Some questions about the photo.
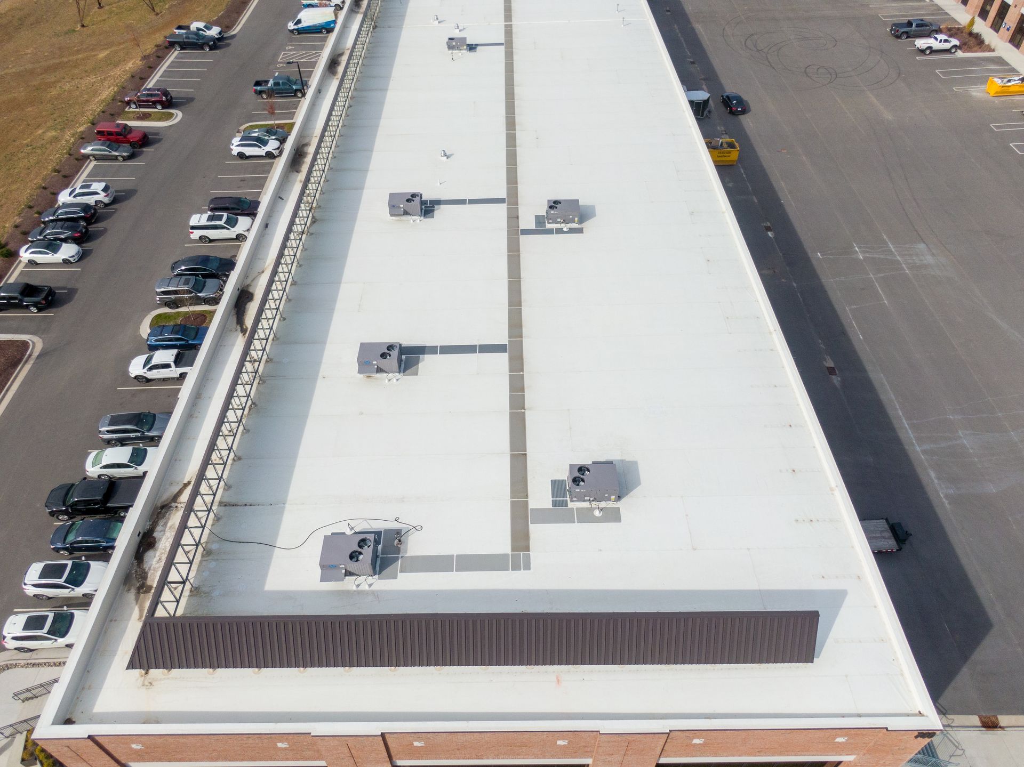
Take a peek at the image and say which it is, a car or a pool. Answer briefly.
car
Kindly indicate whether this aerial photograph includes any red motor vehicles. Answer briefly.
Yes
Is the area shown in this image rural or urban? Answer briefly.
urban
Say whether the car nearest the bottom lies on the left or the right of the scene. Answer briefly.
left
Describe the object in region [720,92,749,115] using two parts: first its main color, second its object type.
black car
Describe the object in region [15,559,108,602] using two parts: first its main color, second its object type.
white car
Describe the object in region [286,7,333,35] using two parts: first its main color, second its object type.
white van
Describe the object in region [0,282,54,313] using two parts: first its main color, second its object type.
black truck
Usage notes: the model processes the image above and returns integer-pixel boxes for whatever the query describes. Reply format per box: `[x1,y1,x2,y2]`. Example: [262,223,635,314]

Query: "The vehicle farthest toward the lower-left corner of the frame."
[0,609,88,654]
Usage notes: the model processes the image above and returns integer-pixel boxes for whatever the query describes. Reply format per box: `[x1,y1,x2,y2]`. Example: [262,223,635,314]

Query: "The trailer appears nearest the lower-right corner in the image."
[858,518,919,552]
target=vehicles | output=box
[286,7,333,35]
[123,84,174,110]
[151,275,225,310]
[250,73,309,99]
[171,21,224,40]
[241,121,293,140]
[15,559,108,602]
[54,179,118,208]
[165,255,236,282]
[165,30,218,51]
[188,212,253,244]
[14,239,82,266]
[87,121,149,149]
[92,410,171,448]
[42,479,144,522]
[36,197,101,222]
[201,190,261,219]
[125,351,199,384]
[78,140,133,161]
[143,322,209,351]
[229,135,281,159]
[47,519,124,557]
[888,16,943,39]
[25,217,90,243]
[720,92,749,115]
[80,444,158,480]
[0,282,54,313]
[0,609,88,654]
[301,0,347,10]
[914,32,965,55]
